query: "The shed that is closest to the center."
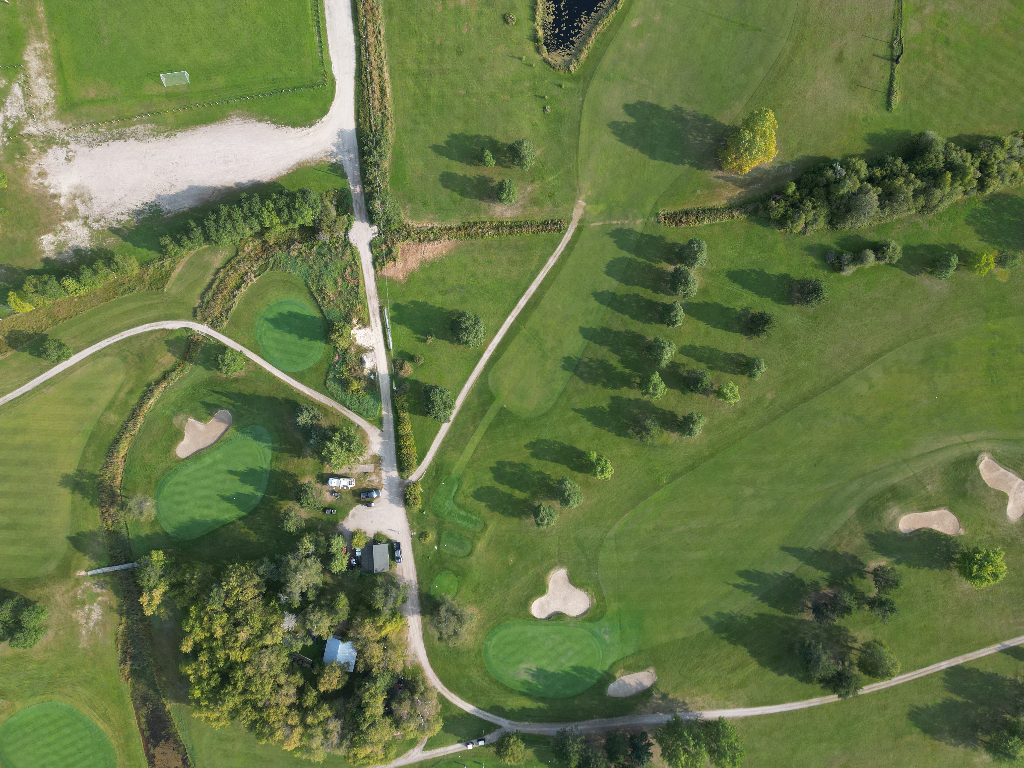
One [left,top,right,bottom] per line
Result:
[361,543,389,573]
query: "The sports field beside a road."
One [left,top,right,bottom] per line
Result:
[36,0,325,111]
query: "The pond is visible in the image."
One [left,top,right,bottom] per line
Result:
[544,0,618,61]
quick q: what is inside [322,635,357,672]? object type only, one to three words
house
